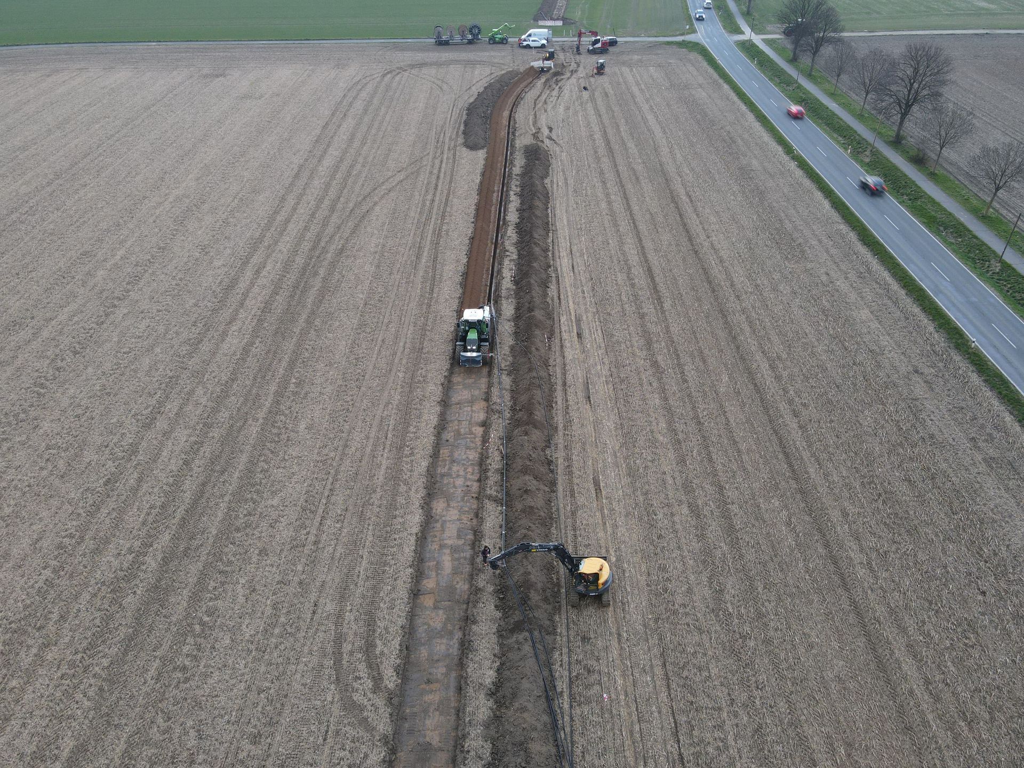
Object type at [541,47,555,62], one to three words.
work vehicle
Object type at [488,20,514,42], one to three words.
work vehicle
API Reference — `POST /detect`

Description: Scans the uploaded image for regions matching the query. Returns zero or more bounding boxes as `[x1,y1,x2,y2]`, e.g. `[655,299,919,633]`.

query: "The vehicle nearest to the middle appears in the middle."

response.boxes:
[456,306,504,372]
